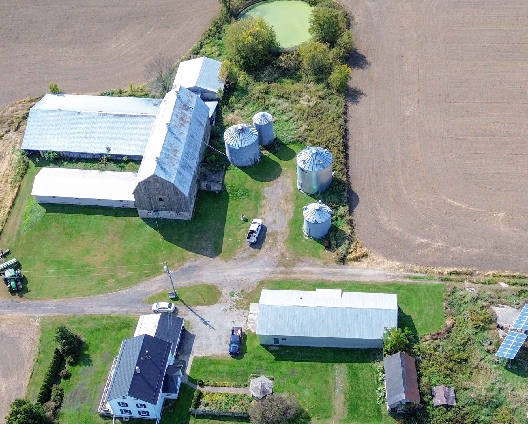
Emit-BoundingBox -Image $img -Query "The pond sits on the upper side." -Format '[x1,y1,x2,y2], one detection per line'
[243,1,314,47]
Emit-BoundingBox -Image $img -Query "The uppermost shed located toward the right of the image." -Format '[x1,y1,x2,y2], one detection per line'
[258,289,397,349]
